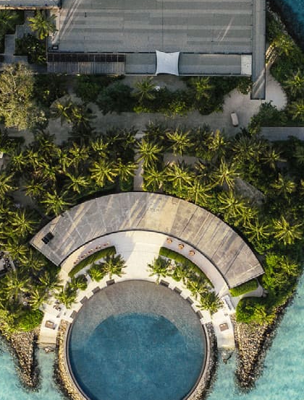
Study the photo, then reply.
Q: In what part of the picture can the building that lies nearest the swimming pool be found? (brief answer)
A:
center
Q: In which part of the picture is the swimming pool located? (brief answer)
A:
bottom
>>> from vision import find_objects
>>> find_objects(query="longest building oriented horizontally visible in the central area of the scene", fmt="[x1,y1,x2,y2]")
[29,190,264,288]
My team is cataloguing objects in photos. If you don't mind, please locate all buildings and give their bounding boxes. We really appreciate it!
[49,0,267,101]
[29,190,264,288]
